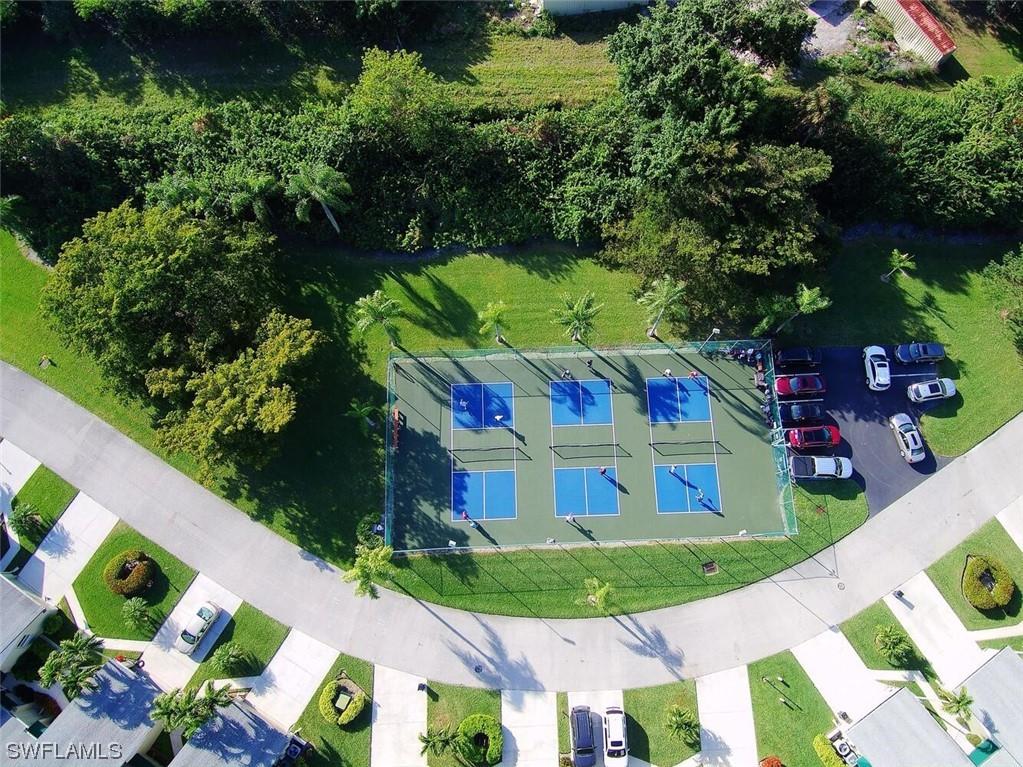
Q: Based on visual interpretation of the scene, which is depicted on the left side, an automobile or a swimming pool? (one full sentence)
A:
There is an automobile on the left side.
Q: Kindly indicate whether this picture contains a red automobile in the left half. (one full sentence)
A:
No, there's no red automobile to be seen in the left half.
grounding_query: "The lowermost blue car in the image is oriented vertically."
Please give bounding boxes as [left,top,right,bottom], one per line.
[570,705,599,767]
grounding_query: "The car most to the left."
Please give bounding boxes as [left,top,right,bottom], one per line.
[177,599,222,655]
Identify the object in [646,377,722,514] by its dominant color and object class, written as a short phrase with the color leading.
blue sports court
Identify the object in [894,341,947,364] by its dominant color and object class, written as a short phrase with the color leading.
blue car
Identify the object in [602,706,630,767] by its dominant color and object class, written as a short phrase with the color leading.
white car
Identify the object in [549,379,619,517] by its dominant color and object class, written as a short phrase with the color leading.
blue sports court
